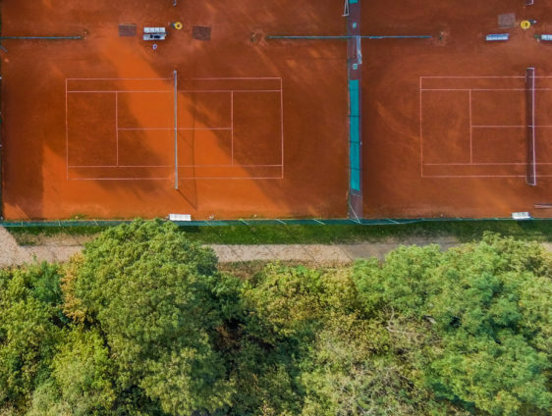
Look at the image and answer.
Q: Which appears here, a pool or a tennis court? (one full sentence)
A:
It is a tennis court that can be seen here.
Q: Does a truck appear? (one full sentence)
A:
No, I can see no truck in this picture.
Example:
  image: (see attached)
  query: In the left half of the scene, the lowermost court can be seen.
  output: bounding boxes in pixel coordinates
[0,37,349,221]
